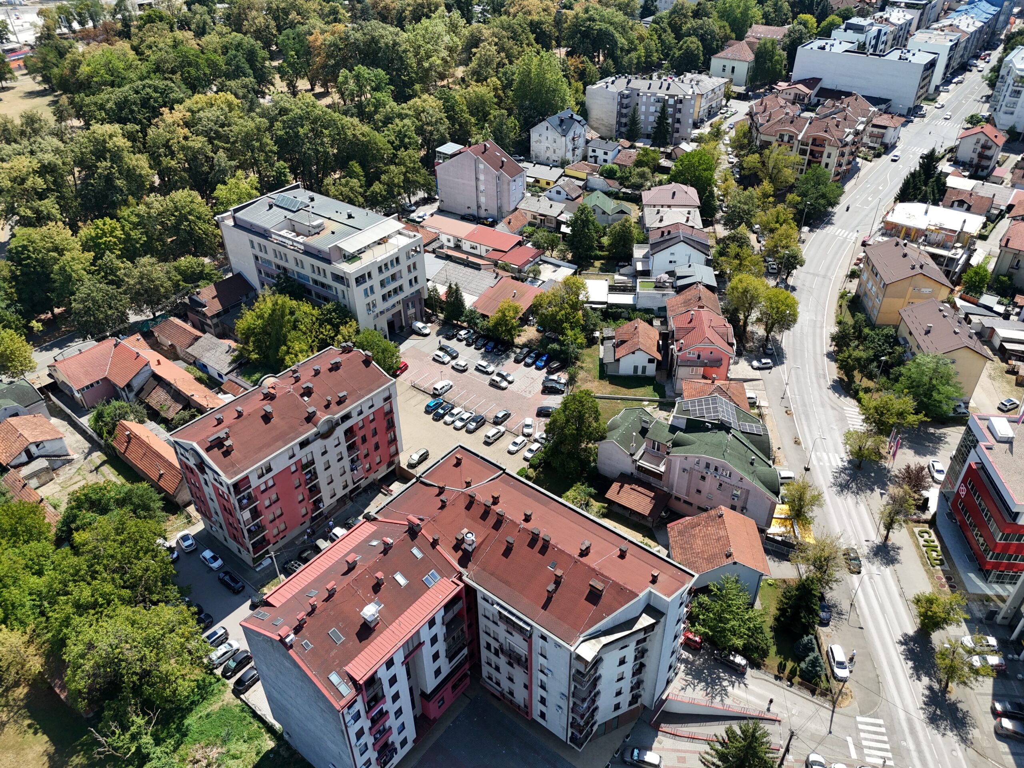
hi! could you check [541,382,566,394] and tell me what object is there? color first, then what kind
black vehicle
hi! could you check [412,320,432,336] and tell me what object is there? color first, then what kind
white vehicle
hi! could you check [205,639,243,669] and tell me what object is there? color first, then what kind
white car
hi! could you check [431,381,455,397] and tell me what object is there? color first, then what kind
white vehicle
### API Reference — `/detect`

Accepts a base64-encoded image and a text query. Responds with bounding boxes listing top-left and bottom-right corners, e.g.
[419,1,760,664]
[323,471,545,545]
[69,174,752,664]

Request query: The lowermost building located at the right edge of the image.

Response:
[940,410,1024,592]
